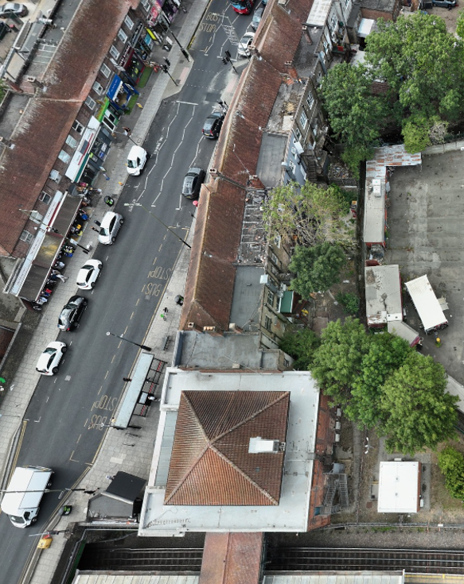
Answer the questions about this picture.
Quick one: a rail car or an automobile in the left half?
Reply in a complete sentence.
Looking in the left half, you will find an automobile.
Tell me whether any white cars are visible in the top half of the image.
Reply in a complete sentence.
Yes, there is a white car in the top half of the image.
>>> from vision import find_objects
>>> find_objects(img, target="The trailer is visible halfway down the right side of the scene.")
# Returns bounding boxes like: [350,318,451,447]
[404,275,452,336]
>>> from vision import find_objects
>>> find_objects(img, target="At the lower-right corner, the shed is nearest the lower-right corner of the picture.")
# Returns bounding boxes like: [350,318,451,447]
[378,457,424,512]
